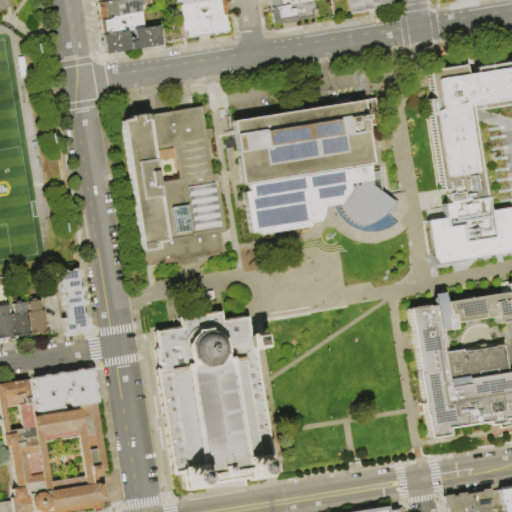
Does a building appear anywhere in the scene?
Yes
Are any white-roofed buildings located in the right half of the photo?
Yes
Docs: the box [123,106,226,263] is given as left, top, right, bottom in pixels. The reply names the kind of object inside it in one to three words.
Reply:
building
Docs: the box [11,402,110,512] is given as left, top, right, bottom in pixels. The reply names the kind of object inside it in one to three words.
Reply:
building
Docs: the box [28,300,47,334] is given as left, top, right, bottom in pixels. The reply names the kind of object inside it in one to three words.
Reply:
house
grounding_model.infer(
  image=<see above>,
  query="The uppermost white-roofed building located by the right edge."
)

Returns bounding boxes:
[426,58,512,202]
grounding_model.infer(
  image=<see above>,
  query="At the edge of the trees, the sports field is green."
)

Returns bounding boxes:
[0,34,43,268]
